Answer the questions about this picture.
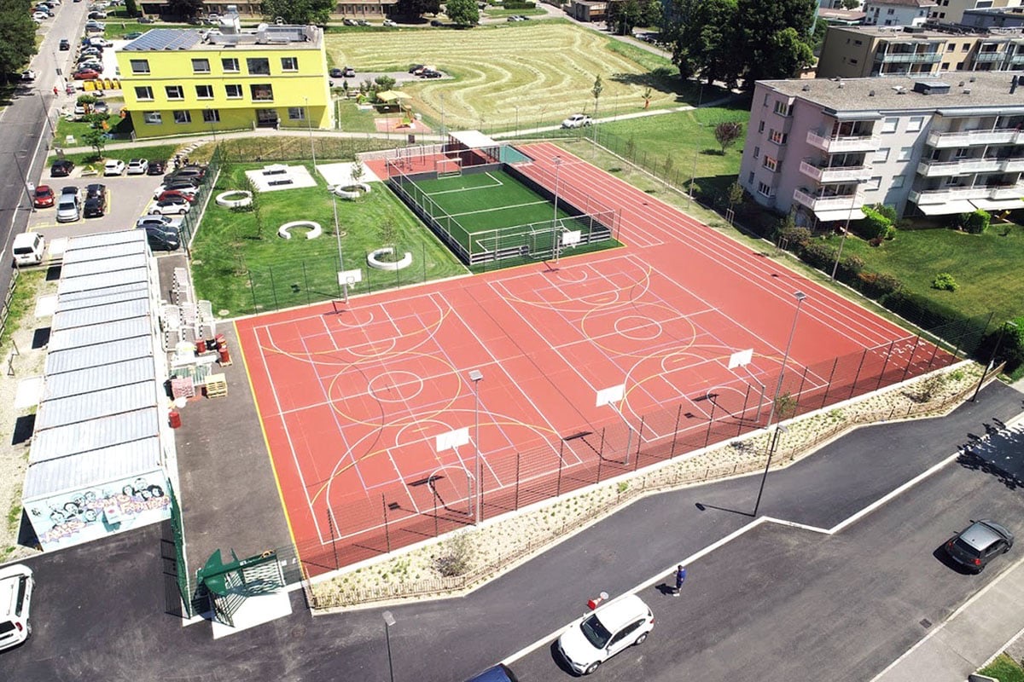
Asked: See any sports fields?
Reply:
Yes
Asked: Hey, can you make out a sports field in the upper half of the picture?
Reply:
Yes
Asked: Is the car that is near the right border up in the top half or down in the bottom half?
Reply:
bottom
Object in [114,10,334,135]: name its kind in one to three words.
building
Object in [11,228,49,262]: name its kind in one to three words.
van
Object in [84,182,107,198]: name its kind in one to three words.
car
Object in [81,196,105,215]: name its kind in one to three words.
car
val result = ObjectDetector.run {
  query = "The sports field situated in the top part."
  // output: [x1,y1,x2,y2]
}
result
[386,165,627,274]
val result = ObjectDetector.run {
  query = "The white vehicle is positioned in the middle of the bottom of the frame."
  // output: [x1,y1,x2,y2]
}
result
[550,588,654,678]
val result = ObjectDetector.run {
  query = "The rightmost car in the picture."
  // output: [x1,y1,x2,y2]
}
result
[941,516,1013,573]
